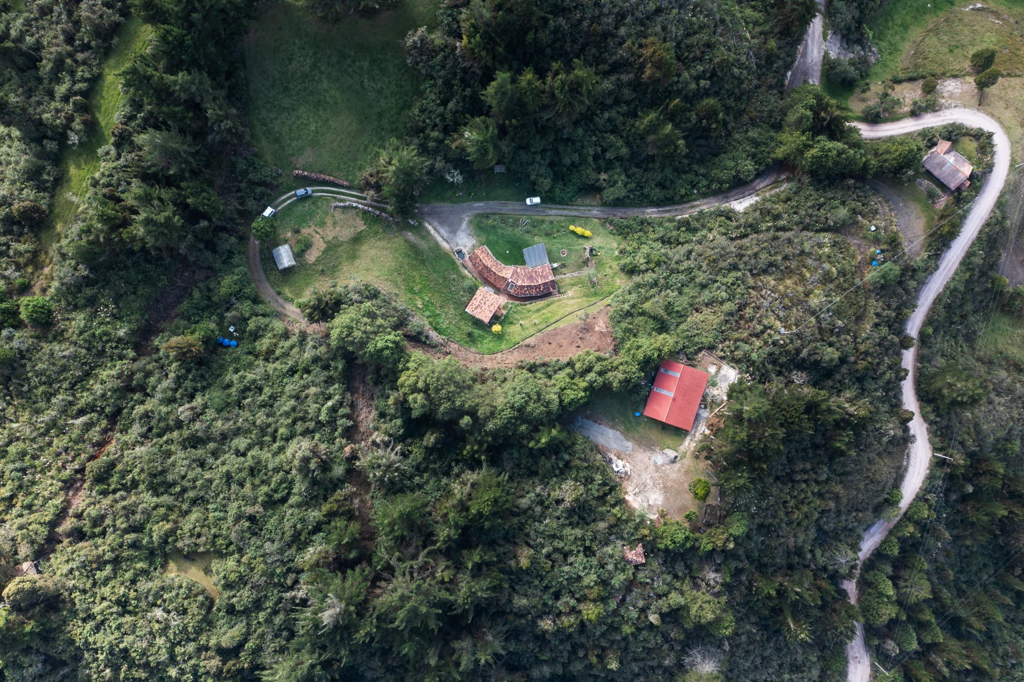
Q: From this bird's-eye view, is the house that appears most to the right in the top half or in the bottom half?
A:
top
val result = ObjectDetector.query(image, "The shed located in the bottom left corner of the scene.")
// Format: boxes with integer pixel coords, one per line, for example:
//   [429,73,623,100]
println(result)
[14,561,42,578]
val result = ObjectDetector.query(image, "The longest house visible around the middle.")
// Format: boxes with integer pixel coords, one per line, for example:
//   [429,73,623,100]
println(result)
[468,245,557,296]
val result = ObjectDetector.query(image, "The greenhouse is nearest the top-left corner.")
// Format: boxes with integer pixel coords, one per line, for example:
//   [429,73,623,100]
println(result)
[272,244,297,270]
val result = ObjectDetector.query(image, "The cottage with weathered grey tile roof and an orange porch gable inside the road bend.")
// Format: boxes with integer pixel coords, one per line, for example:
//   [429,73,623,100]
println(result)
[920,139,972,190]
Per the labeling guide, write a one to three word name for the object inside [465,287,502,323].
shed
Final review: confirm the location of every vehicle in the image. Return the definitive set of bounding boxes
[260,205,275,219]
[526,197,541,205]
[295,187,312,197]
